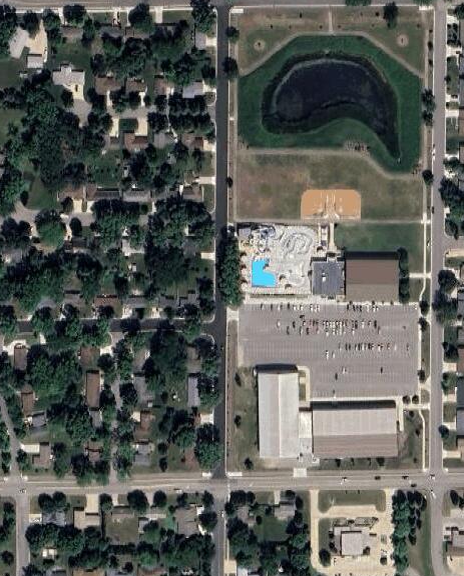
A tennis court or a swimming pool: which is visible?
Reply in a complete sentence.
Of the two, only a swimming pool appears.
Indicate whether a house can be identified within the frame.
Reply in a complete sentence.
Yes, there's a house here.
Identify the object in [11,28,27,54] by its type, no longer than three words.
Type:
house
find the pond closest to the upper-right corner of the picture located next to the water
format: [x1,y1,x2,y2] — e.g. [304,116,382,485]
[272,59,399,154]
